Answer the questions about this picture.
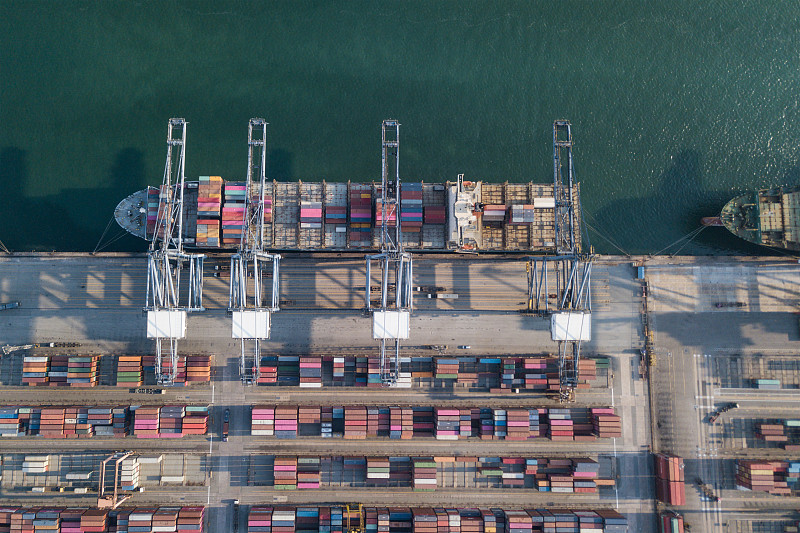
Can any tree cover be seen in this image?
No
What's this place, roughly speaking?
port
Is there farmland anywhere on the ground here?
No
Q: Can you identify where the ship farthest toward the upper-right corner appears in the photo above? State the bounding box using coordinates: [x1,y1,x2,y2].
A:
[699,184,800,253]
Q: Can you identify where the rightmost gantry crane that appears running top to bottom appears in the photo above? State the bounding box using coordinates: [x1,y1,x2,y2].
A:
[519,118,593,385]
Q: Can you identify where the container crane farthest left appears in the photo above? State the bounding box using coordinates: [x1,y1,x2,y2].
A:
[98,452,137,510]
